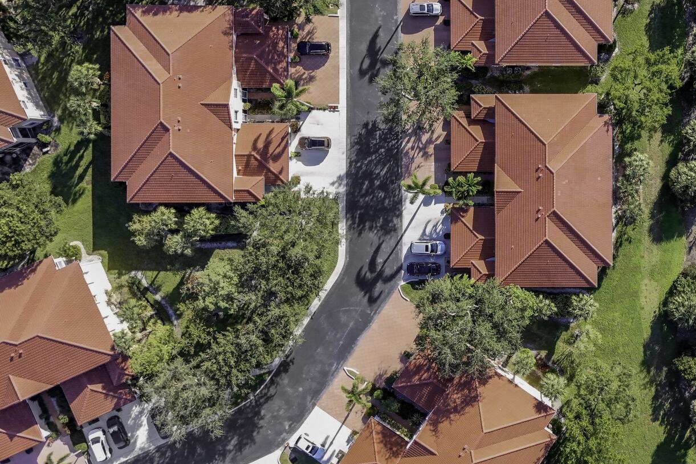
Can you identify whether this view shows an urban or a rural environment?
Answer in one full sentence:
From above, the setting appears urban.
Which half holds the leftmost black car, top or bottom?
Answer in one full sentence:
The leftmost black car is in the bottom half of the image.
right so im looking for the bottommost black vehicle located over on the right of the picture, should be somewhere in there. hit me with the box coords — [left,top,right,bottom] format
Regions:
[407,262,440,278]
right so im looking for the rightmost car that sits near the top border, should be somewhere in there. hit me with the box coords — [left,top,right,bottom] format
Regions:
[409,0,443,16]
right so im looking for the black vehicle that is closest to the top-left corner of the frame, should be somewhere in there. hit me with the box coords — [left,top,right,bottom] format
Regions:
[297,40,330,56]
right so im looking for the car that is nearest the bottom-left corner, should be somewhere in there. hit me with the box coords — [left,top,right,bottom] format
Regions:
[90,428,111,462]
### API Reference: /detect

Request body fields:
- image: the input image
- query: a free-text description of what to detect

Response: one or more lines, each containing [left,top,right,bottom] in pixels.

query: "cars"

[90,428,111,462]
[411,239,445,256]
[409,0,443,16]
[108,415,129,448]
[298,136,331,151]
[294,434,326,460]
[407,262,440,278]
[297,40,330,56]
